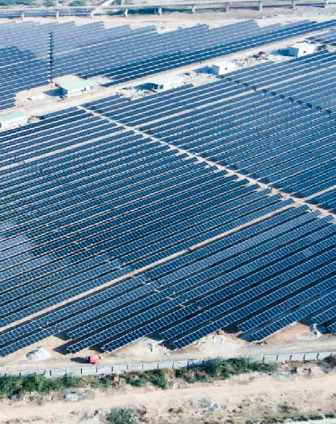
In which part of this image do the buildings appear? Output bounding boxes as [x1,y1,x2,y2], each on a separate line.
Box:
[59,78,98,97]
[149,75,186,93]
[288,41,316,57]
[210,59,235,74]
[0,110,28,130]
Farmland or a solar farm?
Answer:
solar farm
